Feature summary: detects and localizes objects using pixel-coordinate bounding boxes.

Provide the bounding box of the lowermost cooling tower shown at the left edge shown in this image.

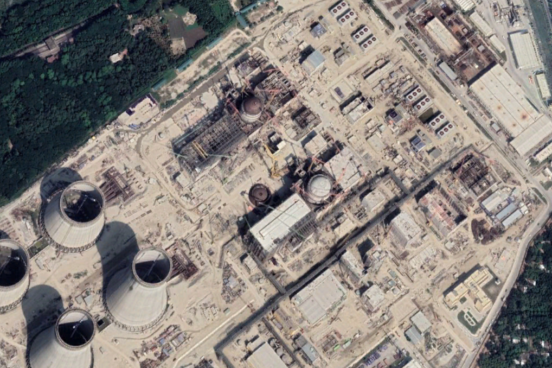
[25,306,97,368]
